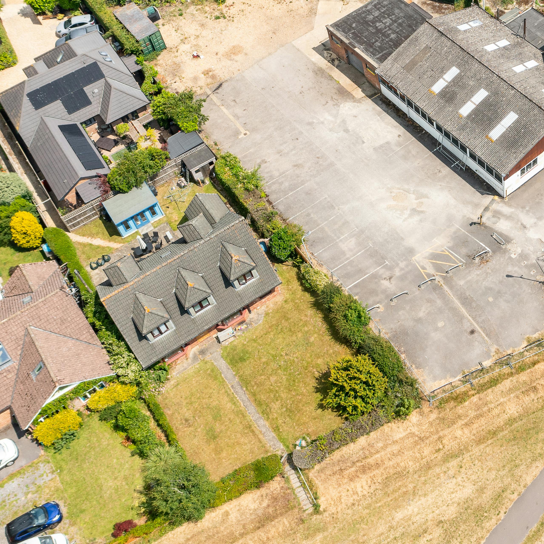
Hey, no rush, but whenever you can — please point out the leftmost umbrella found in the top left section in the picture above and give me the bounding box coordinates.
[95,136,118,151]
